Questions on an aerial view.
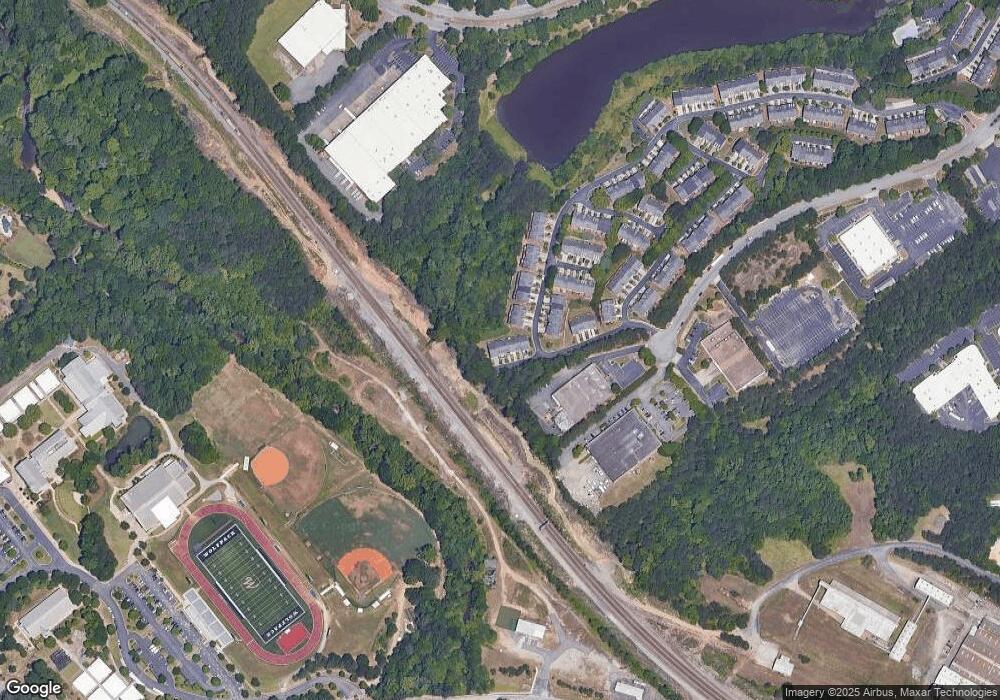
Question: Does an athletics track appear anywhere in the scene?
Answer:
Yes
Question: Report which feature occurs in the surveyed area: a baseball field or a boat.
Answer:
baseball field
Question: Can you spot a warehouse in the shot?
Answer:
Yes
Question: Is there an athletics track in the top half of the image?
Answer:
No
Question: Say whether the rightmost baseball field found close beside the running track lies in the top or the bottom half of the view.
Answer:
bottom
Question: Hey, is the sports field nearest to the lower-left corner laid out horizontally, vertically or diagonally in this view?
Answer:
diagonally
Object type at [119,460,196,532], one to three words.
building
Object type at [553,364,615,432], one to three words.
building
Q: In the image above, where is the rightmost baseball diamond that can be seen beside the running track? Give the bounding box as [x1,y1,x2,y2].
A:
[297,488,436,606]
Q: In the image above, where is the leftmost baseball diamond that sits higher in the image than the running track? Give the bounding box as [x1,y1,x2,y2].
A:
[251,446,289,486]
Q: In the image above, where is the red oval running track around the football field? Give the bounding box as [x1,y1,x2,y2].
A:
[178,504,322,664]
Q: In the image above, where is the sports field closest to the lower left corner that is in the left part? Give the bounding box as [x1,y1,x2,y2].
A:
[188,514,312,654]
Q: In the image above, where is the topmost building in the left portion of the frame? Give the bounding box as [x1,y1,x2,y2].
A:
[277,0,346,67]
